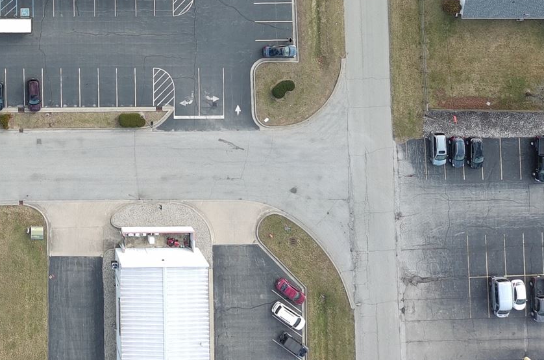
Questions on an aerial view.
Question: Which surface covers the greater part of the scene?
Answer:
paved ground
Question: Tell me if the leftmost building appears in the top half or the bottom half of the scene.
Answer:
bottom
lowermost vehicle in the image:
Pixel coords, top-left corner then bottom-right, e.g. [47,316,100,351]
[276,329,308,358]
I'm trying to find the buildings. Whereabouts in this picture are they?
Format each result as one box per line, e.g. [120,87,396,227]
[115,250,211,360]
[454,0,544,19]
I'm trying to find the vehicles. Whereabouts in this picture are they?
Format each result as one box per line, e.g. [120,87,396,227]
[262,45,295,61]
[0,18,31,38]
[490,275,514,317]
[530,274,544,320]
[273,277,306,304]
[511,278,528,310]
[276,329,308,358]
[26,78,42,112]
[270,301,306,329]
[0,81,6,111]
[429,133,449,165]
[465,136,485,169]
[447,136,466,167]
[531,136,544,181]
